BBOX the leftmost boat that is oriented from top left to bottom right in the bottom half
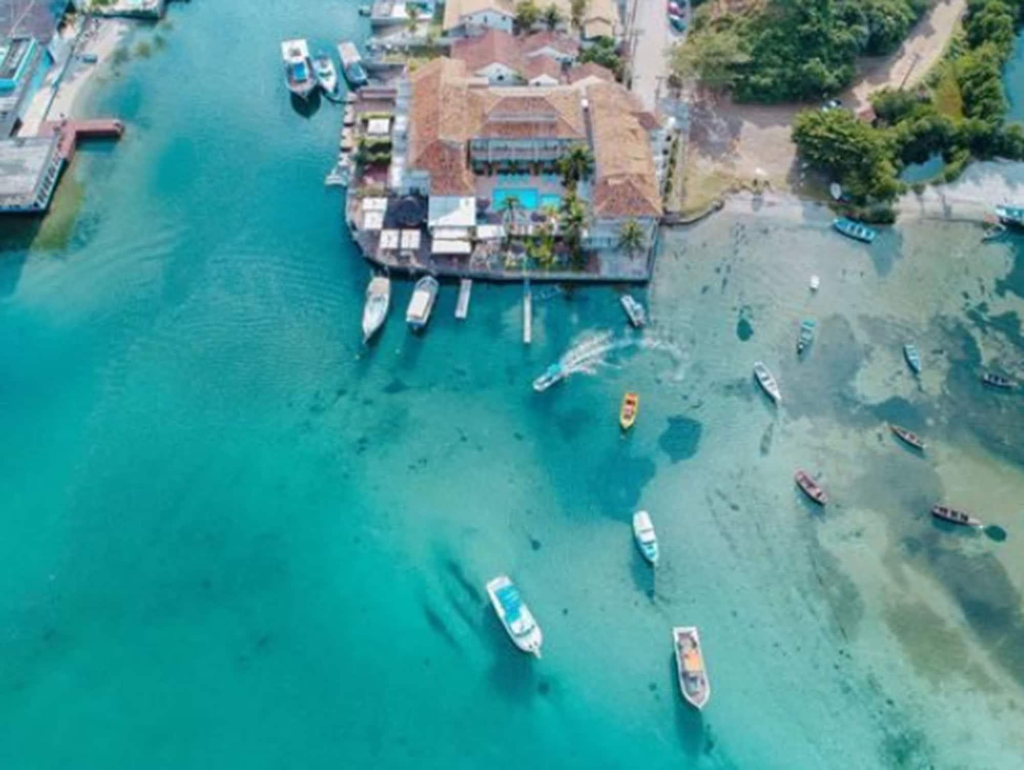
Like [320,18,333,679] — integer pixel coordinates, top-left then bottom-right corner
[483,579,541,660]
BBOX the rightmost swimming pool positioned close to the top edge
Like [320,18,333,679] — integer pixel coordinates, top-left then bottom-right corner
[407,2,432,20]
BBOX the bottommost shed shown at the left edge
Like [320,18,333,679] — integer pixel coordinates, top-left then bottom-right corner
[0,135,74,225]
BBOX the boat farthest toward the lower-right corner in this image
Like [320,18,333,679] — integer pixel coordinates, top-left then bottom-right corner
[929,502,989,531]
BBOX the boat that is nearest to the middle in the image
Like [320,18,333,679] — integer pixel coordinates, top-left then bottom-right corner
[534,360,571,390]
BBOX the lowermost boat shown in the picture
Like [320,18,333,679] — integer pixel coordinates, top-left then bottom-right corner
[672,627,710,708]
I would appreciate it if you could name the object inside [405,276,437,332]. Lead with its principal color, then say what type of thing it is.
white boat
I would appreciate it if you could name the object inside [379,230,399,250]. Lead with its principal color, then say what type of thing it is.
white umbrella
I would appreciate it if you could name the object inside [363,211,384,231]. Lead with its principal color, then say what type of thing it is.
white umbrella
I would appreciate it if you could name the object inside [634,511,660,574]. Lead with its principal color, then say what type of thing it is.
white boat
